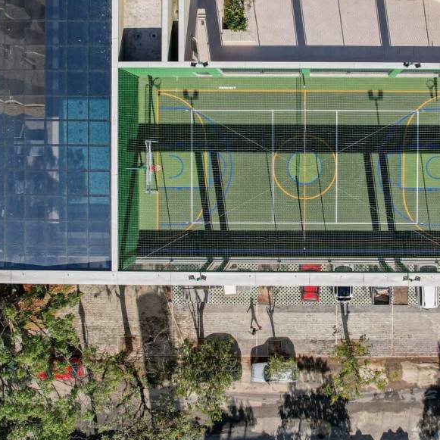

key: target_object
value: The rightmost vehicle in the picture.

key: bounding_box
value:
[413,286,436,303]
